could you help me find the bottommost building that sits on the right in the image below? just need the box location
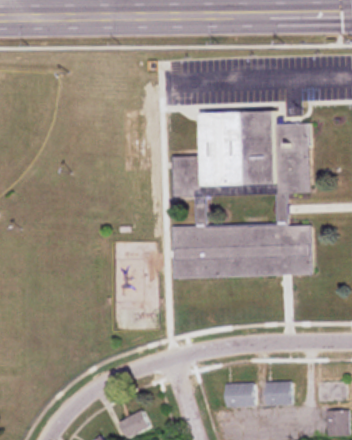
[328,412,352,438]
